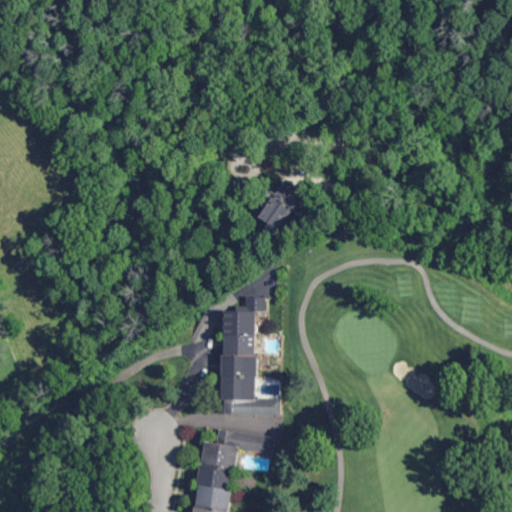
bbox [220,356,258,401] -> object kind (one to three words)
house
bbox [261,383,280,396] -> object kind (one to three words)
swimming pool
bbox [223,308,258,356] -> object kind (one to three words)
house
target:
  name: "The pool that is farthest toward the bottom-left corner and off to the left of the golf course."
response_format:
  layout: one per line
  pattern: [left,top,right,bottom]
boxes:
[239,455,271,473]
